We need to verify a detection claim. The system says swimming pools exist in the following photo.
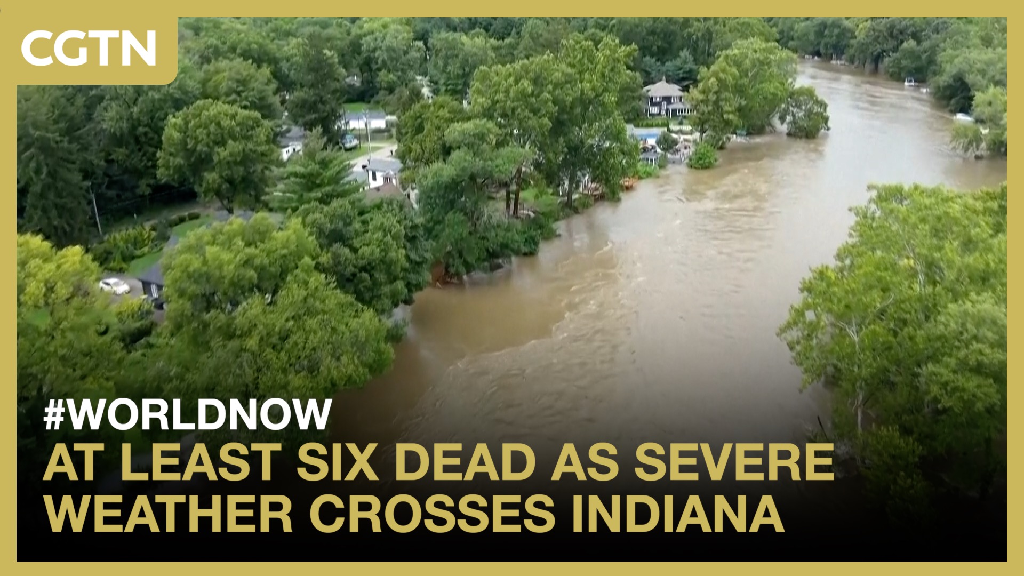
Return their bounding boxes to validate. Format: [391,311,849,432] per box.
[634,129,667,145]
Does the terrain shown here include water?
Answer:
Yes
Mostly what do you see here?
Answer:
trees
